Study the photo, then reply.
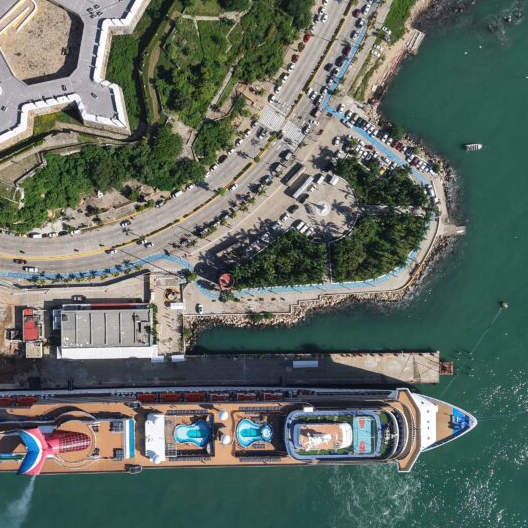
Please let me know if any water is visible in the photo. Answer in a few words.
Yes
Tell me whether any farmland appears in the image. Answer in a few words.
No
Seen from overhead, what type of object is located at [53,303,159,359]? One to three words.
building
